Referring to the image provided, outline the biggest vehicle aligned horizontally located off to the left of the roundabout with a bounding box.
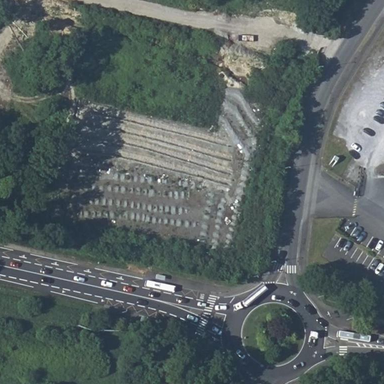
[145,279,176,292]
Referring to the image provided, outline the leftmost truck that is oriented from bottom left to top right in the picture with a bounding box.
[234,284,268,312]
